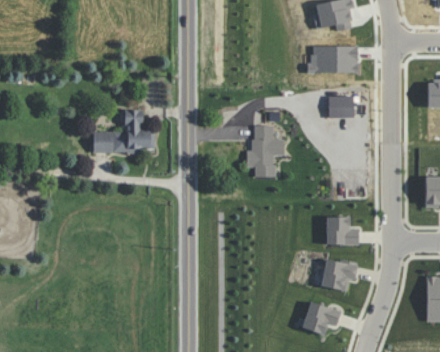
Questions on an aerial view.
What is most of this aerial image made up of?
grass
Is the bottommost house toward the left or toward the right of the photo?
right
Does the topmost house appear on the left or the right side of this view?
right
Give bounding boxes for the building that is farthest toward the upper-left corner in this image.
[94,109,156,153]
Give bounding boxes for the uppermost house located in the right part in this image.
[317,0,356,26]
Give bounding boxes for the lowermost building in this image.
[304,302,342,337]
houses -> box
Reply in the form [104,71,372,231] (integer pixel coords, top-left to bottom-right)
[248,125,285,178]
[304,302,342,337]
[308,46,364,72]
[426,176,440,209]
[94,109,156,153]
[428,276,440,322]
[328,216,360,245]
[322,260,360,292]
[428,78,440,107]
[317,0,356,26]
